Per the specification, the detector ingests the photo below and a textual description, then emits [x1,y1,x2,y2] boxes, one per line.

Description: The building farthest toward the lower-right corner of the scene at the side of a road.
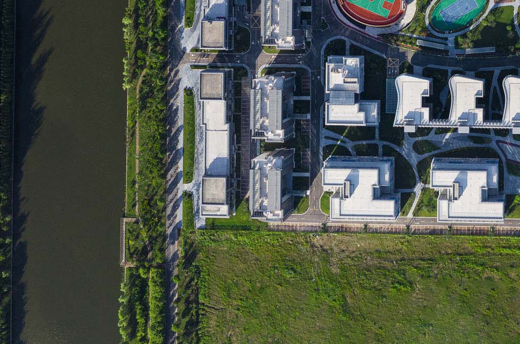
[431,159,507,225]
